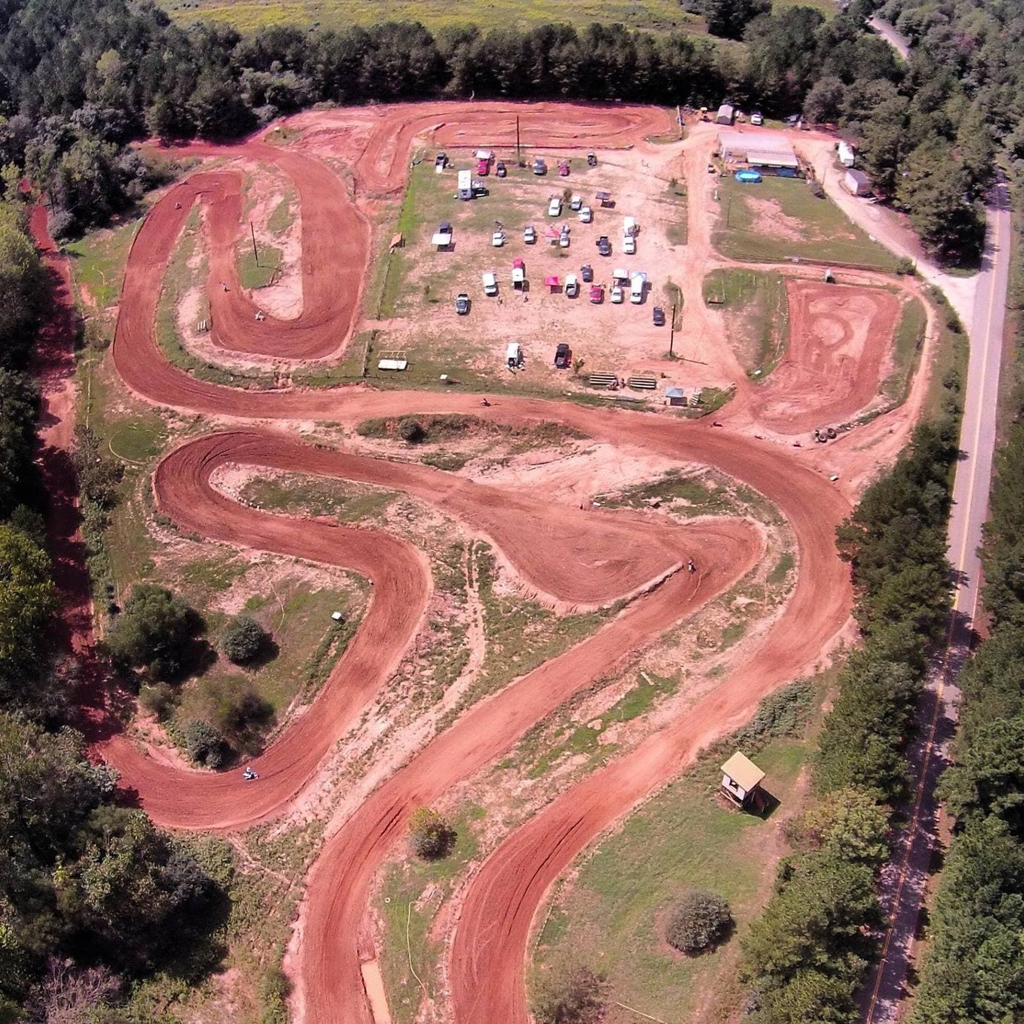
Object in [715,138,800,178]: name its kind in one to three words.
house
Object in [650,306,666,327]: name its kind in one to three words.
car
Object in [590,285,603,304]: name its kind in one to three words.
vehicle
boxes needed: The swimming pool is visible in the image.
[736,172,761,185]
